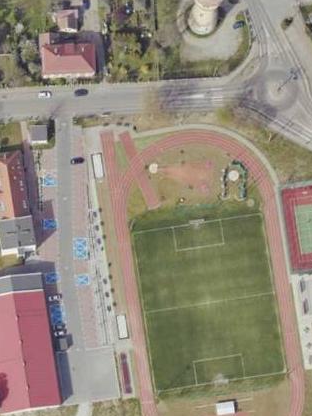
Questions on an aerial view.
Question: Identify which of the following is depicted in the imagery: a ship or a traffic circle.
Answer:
traffic circle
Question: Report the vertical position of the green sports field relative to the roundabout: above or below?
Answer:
below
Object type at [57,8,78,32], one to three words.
building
